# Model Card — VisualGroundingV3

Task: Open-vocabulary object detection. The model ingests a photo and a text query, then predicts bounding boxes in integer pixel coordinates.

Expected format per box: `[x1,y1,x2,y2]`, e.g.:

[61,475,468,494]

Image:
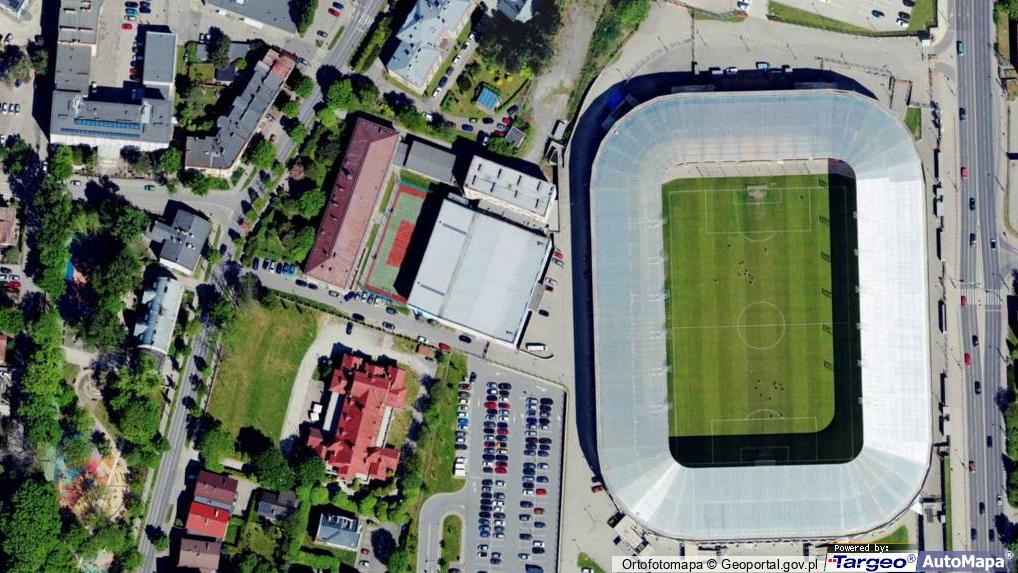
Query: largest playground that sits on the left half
[41,451,125,523]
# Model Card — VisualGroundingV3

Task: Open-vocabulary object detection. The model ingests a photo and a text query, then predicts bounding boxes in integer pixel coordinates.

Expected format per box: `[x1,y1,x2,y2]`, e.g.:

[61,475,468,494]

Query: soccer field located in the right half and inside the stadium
[664,173,862,467]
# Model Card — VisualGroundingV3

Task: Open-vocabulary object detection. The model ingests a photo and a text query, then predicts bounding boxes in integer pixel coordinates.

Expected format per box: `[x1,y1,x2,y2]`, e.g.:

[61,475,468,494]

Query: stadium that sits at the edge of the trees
[589,85,936,546]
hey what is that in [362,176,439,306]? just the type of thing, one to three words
sports court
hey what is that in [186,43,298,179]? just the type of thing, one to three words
building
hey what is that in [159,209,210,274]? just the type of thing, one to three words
house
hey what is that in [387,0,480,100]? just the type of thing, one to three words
building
